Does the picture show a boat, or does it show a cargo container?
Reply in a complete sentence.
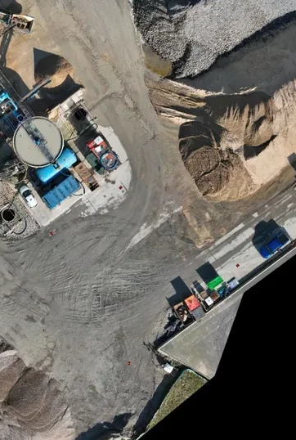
It is a cargo container that can be seen here.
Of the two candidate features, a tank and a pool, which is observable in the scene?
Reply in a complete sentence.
This aerial view contains a tank.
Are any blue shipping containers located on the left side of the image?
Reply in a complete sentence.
Yes, a blue shipping container appears on the left side of the image.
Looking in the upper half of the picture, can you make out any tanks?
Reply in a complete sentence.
Yes, a tank appears in the upper half of the picture.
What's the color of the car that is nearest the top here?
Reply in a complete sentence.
The color of the car that is nearest the top is white.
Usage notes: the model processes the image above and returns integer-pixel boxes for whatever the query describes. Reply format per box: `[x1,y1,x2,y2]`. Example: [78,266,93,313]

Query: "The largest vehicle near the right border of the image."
[254,225,293,255]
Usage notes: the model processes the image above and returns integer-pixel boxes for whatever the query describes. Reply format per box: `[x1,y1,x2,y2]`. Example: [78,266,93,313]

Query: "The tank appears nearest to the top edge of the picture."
[12,116,64,168]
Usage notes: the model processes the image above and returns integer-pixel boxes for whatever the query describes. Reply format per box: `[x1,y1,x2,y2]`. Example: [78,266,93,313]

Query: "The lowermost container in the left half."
[42,176,79,209]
